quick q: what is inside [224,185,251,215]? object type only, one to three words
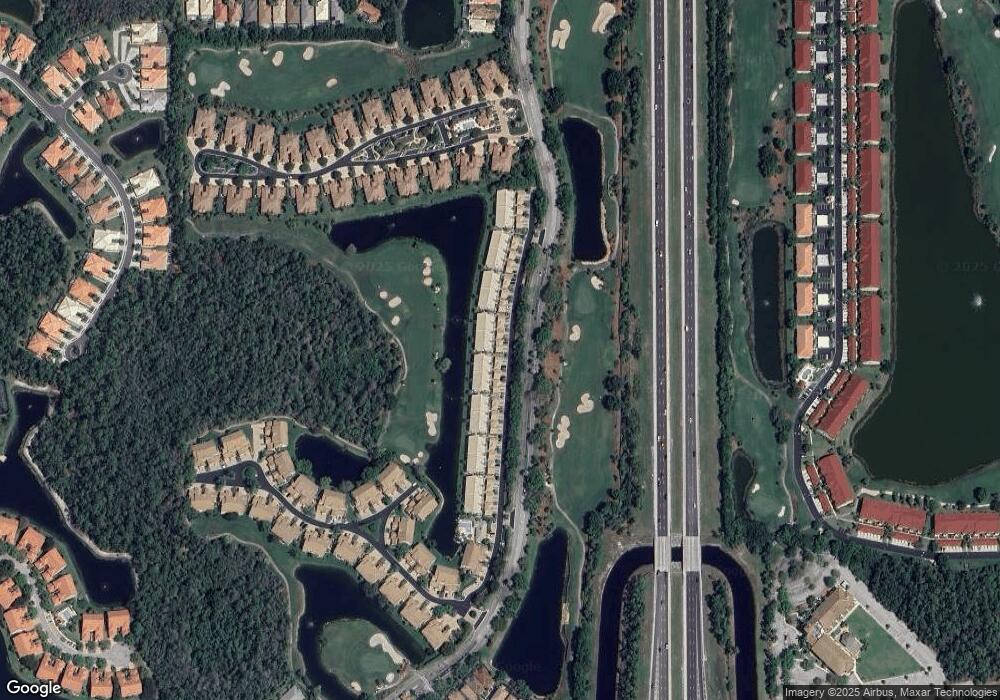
house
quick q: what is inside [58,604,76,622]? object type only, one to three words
swimming pool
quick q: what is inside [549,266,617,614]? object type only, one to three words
golf course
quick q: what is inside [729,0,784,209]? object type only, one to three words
golf course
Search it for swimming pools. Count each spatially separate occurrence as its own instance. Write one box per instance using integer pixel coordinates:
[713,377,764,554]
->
[459,517,473,537]
[796,363,816,385]
[454,117,478,131]
[58,604,76,622]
